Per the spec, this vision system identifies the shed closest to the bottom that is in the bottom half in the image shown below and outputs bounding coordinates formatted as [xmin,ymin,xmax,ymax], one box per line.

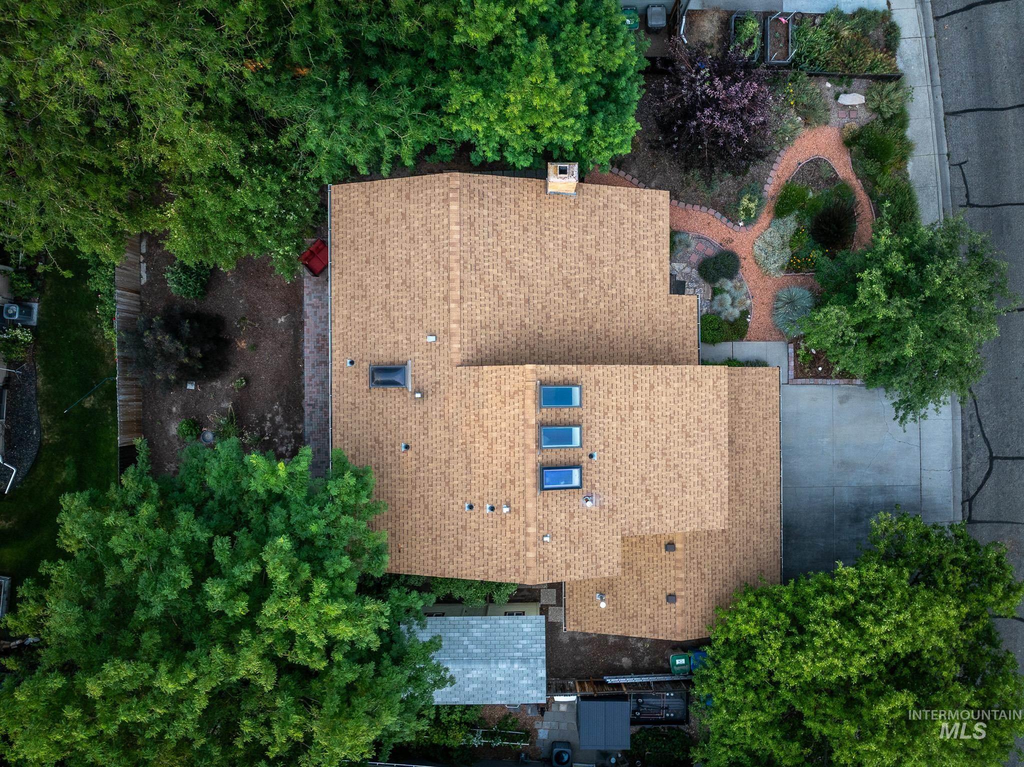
[577,694,630,750]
